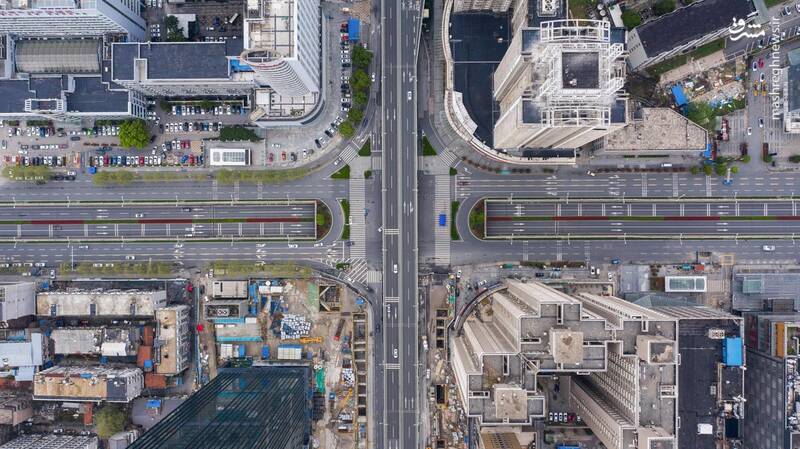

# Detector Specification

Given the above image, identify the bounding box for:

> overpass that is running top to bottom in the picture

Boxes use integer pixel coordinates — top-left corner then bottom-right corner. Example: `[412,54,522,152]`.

[381,0,424,449]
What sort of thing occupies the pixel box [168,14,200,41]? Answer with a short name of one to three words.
shed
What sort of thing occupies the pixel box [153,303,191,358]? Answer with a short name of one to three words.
building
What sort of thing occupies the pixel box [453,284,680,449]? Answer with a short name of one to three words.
building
